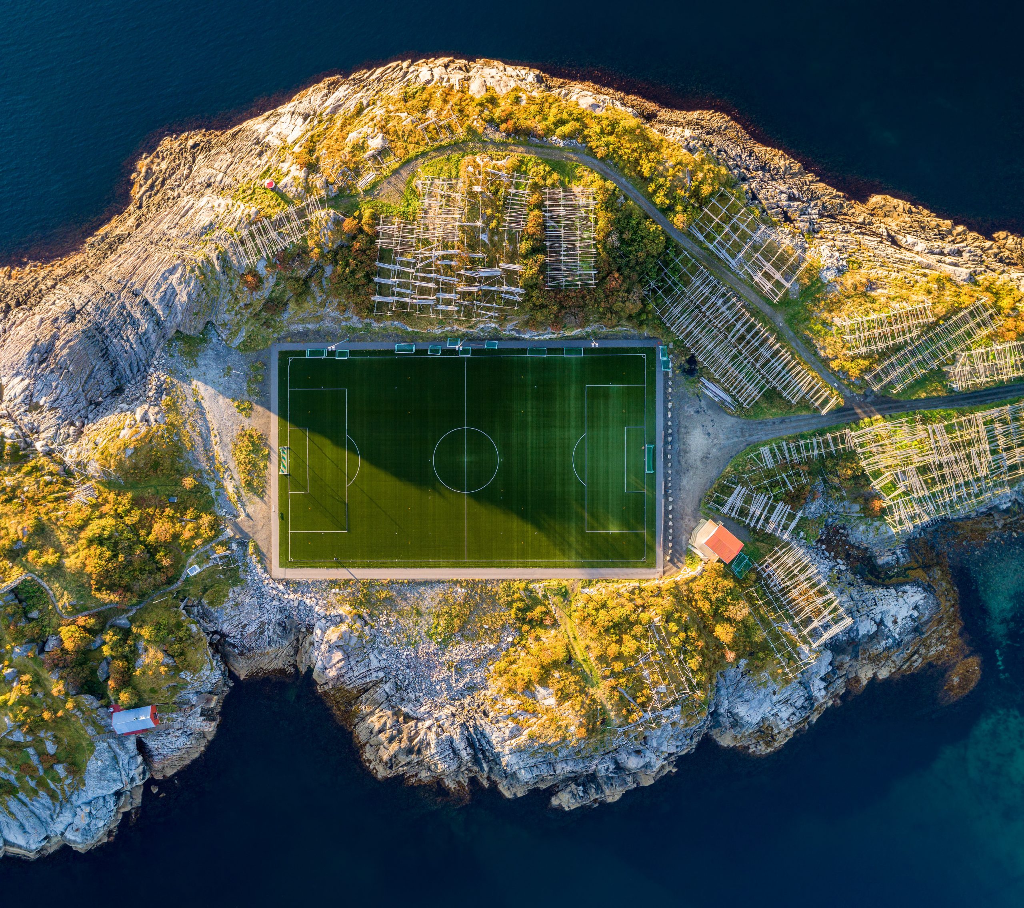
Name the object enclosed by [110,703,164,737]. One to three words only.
building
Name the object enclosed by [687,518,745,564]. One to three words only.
building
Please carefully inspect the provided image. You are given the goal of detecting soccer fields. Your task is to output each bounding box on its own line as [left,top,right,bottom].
[278,347,656,568]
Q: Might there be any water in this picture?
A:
Yes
